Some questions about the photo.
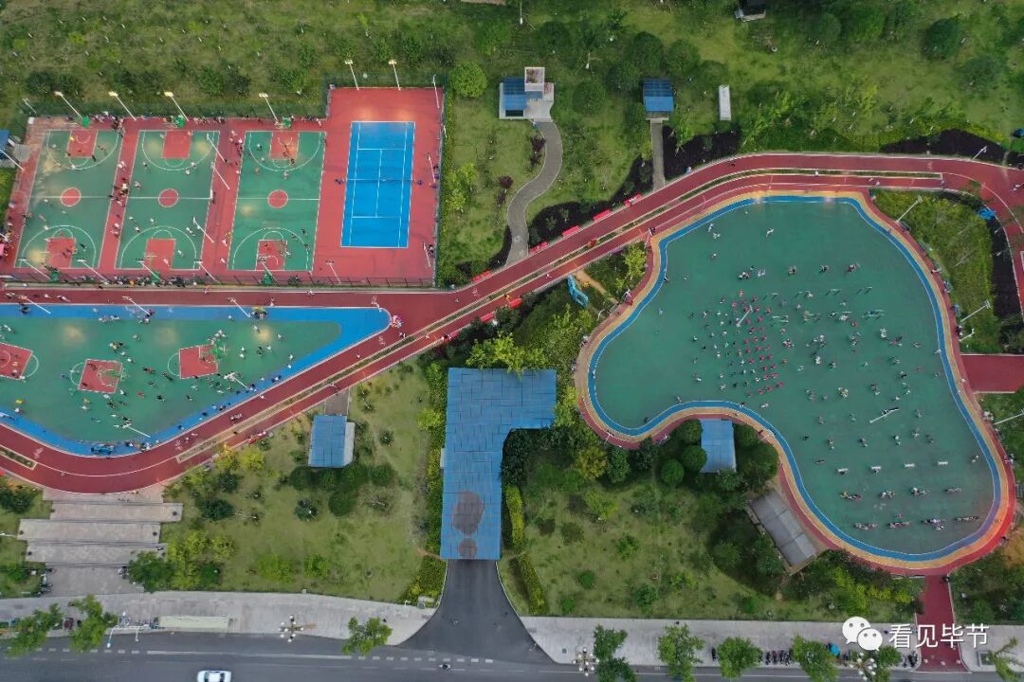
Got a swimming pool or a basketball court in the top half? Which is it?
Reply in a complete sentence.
The feature located in the top half is a basketball court.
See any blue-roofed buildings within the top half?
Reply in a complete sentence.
Yes, within the top half there is a blue-roofed building.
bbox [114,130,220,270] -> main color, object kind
green basketball court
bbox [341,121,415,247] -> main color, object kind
blue tennis court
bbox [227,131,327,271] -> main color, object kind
green basketball court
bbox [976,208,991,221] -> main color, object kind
blue umbrella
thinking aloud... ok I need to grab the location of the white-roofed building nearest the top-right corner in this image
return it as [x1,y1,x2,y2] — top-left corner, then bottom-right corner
[715,86,731,128]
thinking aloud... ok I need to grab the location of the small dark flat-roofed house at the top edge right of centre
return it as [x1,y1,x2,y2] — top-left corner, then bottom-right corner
[736,0,765,29]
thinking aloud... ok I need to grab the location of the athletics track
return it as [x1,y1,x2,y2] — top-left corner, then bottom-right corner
[0,152,1024,495]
